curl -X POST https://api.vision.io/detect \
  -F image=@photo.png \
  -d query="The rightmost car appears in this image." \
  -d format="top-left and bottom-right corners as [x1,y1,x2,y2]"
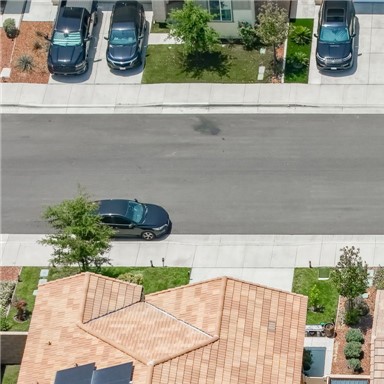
[314,1,360,73]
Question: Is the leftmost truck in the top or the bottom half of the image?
top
